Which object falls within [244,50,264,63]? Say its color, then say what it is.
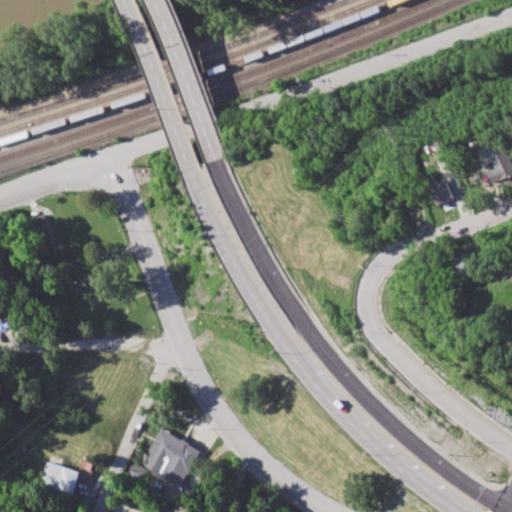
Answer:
white rail car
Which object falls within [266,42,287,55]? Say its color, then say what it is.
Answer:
white rail car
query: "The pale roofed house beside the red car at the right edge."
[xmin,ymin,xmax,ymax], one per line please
[480,145,512,184]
